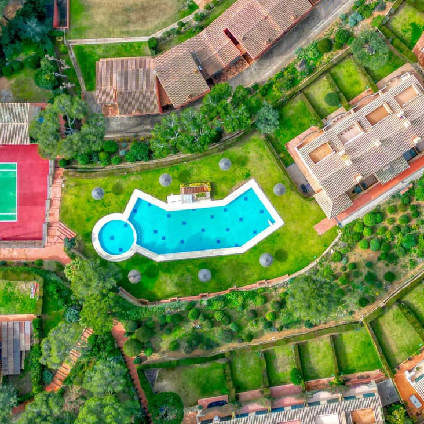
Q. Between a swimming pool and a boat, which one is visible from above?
swimming pool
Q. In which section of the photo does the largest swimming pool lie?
center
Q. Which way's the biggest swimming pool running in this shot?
from side to side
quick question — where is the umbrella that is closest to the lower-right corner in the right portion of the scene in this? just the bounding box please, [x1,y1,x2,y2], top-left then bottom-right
[260,253,273,266]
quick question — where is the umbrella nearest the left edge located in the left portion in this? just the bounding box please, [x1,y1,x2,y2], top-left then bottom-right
[91,187,105,200]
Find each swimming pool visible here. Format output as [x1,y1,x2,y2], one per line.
[91,213,137,262]
[123,178,284,262]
